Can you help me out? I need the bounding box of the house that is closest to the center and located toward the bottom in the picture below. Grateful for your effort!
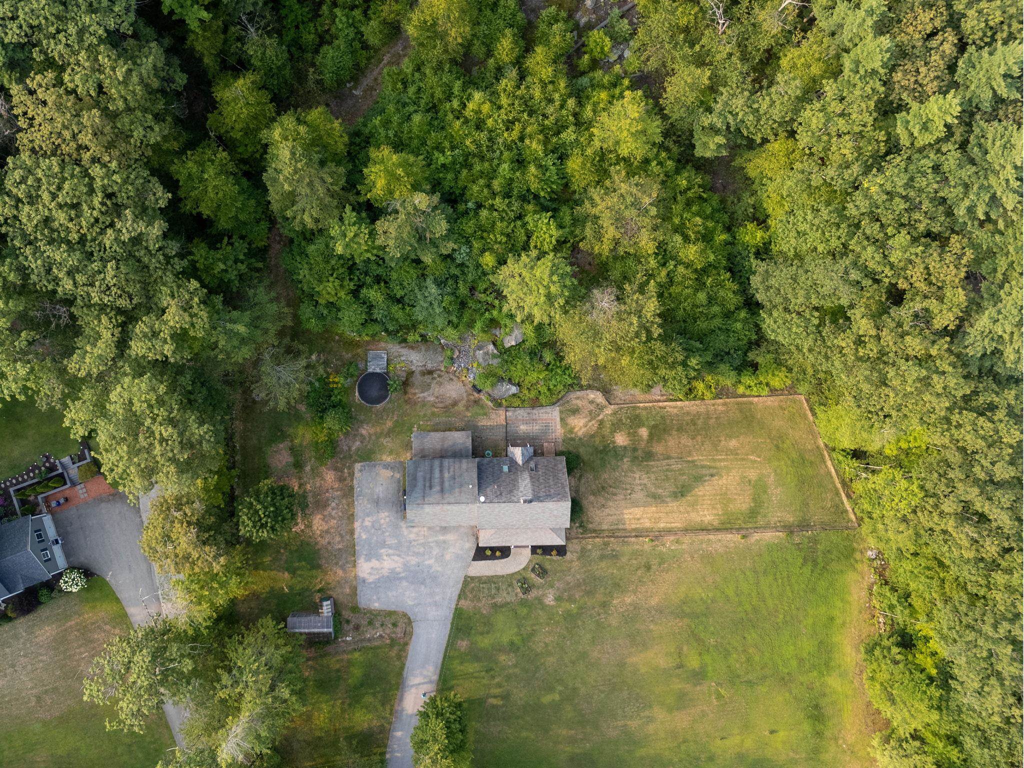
[404,431,571,550]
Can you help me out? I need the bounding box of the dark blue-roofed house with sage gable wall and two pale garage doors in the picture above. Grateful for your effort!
[0,513,69,608]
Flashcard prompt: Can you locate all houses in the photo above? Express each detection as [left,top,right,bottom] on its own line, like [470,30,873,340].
[0,513,69,608]
[404,431,571,550]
